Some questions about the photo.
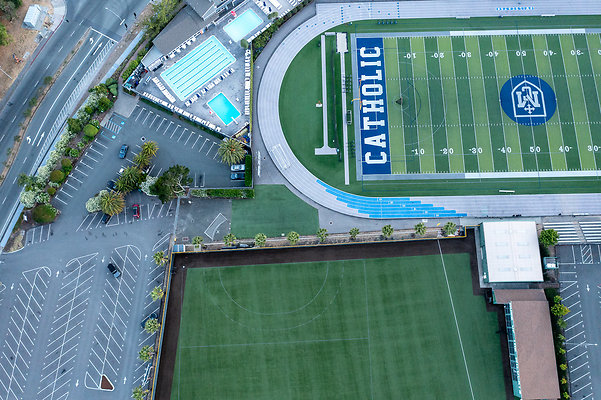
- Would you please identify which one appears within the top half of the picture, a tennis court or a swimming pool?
swimming pool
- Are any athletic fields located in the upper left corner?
No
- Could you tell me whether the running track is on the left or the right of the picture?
right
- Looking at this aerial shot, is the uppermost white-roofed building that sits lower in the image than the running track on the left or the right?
right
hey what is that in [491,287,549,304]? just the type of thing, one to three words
shed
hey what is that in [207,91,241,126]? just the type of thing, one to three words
swimming pool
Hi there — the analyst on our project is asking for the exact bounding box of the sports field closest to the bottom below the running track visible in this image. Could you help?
[154,227,515,400]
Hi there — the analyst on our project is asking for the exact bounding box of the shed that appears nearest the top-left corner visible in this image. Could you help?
[25,5,45,31]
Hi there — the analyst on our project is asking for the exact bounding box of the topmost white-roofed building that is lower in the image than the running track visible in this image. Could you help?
[480,221,543,283]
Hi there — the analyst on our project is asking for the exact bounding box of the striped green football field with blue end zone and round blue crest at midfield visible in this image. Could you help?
[350,21,601,188]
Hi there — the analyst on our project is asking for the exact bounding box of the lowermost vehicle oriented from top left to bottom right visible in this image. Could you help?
[106,260,121,279]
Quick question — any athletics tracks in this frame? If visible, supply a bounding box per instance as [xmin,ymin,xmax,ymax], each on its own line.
[256,0,601,219]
